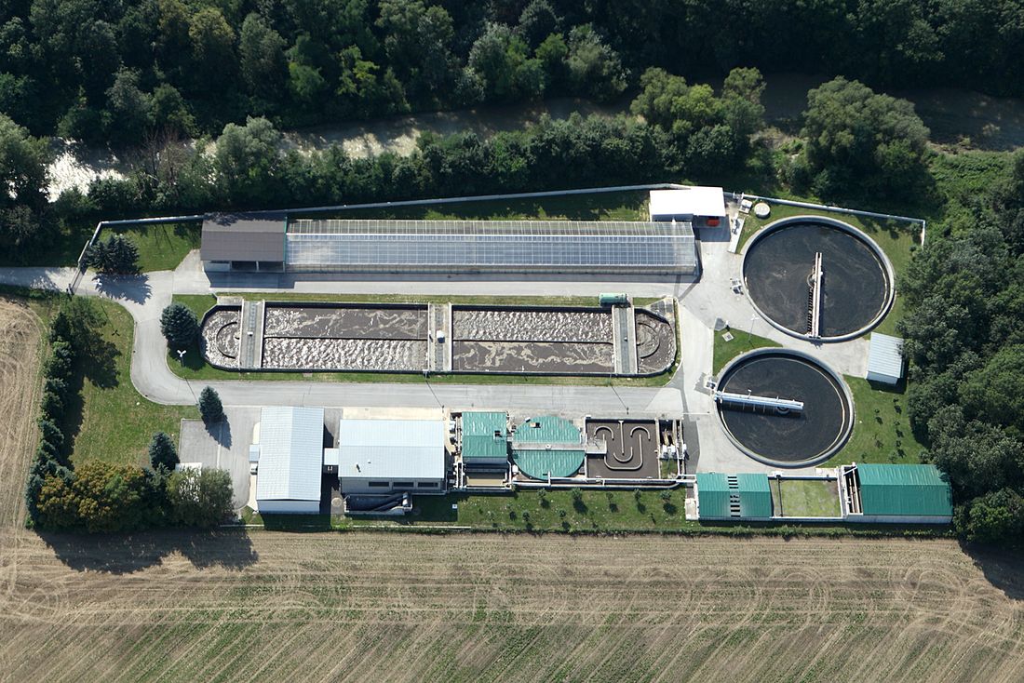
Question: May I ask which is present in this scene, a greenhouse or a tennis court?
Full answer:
The image shows a greenhouse.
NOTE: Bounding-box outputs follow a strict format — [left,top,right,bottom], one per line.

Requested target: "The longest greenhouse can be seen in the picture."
[288,220,697,275]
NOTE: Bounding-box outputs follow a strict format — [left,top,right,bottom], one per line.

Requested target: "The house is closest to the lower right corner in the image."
[856,464,950,521]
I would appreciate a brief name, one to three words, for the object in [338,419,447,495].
house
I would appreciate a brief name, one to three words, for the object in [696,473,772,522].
house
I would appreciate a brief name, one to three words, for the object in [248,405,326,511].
building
